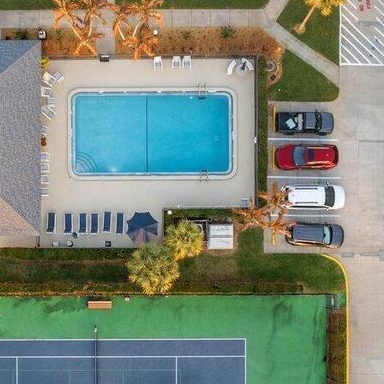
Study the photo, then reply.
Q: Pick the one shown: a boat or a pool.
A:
pool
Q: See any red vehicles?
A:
Yes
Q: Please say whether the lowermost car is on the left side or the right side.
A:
right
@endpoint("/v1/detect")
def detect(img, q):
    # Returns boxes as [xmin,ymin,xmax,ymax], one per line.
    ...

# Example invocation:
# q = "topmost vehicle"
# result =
[275,106,335,134]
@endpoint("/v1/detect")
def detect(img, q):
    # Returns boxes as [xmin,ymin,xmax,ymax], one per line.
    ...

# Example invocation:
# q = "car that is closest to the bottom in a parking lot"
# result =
[285,220,343,249]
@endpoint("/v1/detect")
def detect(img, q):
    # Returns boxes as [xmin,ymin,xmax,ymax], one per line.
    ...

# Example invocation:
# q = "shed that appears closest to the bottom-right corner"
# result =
[209,224,235,249]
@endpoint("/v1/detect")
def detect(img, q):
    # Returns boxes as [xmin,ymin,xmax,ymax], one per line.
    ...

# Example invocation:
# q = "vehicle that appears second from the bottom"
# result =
[282,181,345,211]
